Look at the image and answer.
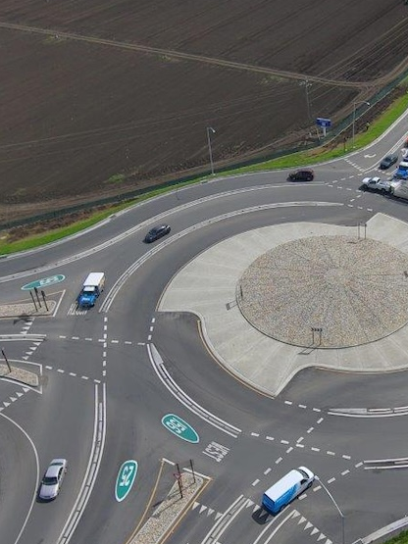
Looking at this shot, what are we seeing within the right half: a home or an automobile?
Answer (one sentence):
There is an automobile within the right half.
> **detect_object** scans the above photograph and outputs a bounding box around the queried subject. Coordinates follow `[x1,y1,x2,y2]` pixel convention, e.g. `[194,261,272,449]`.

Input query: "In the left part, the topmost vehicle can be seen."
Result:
[141,223,171,245]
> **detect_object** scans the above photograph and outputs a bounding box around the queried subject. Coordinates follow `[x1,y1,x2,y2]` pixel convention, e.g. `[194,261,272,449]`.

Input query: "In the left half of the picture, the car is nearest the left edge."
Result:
[36,463,67,503]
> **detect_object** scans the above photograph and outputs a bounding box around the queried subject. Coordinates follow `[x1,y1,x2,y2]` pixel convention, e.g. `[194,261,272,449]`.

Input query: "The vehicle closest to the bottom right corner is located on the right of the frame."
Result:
[260,475,316,521]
